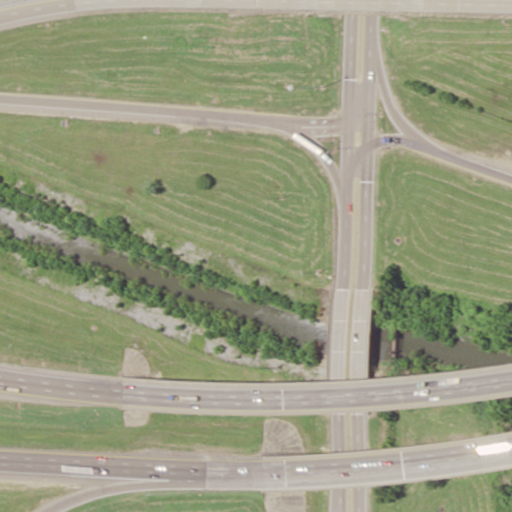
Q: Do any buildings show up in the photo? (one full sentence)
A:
No, no building is visible in the scene.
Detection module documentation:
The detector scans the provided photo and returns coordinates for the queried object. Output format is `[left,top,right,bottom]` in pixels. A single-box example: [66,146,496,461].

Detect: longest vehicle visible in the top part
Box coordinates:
[294,134,332,164]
